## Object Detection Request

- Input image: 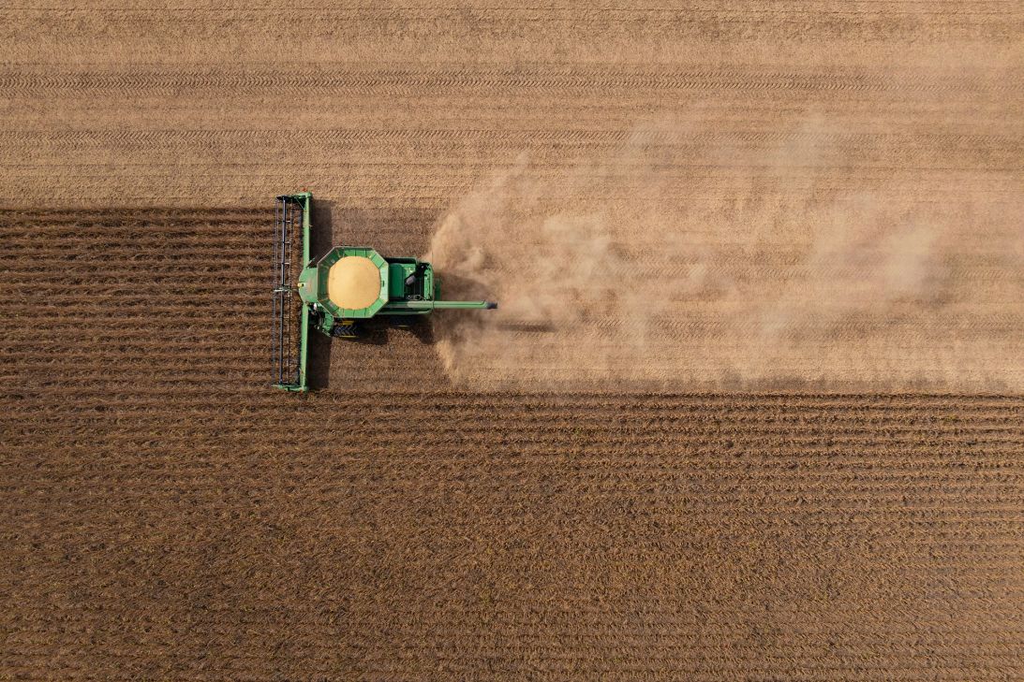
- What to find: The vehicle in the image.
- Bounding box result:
[271,188,499,392]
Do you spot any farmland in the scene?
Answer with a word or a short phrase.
Yes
